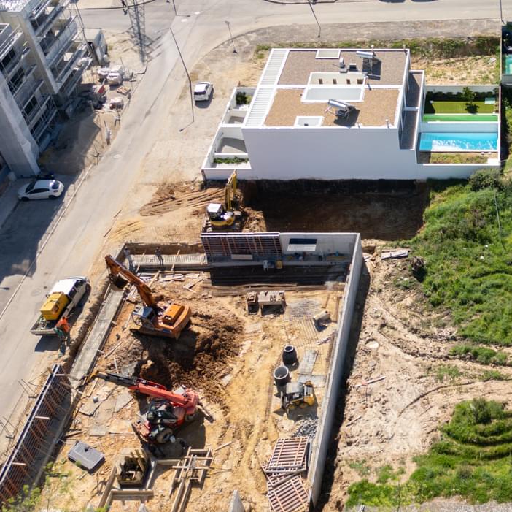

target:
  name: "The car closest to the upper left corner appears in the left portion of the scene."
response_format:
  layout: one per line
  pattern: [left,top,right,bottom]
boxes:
[15,176,66,201]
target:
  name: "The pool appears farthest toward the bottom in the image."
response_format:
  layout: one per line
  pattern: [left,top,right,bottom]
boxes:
[423,133,499,154]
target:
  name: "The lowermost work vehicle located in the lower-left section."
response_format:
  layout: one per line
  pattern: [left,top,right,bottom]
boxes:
[68,377,205,460]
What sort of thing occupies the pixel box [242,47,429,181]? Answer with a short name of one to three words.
house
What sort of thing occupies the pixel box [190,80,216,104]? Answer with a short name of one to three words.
car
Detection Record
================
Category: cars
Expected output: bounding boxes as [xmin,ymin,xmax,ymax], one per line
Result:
[190,80,216,104]
[15,176,66,201]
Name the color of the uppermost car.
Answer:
white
